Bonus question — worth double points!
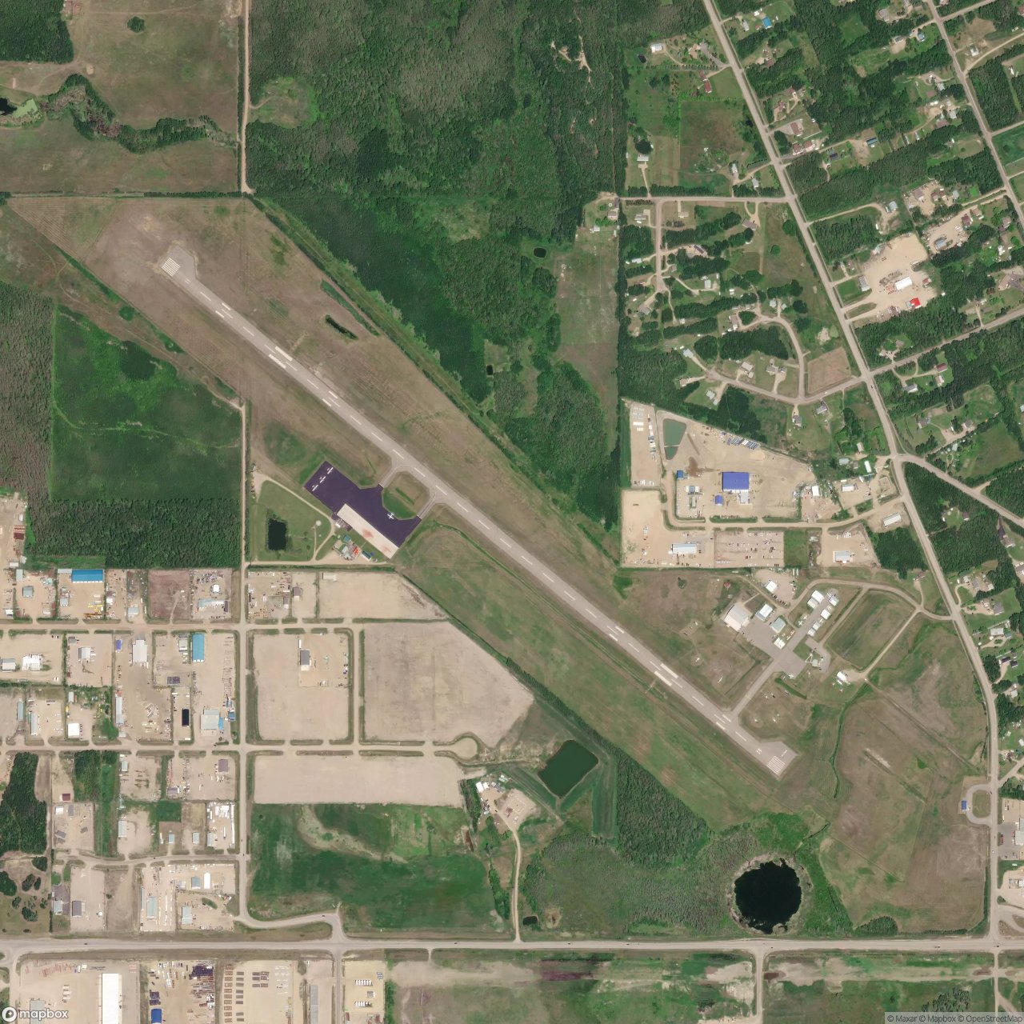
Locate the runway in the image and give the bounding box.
[161,257,787,777]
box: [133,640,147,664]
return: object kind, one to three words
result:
building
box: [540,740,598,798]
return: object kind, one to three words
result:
pond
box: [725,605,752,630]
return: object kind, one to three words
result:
hangar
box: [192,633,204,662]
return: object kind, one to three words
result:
building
